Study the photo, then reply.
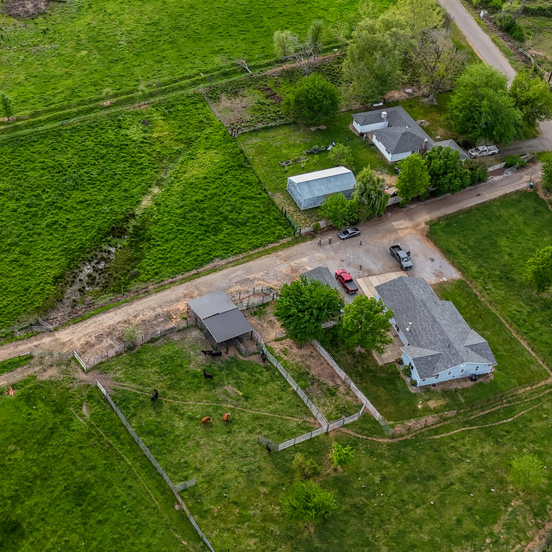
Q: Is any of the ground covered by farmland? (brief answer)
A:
Yes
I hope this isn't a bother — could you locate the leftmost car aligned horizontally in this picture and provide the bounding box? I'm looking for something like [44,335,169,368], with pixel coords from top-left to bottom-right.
[338,227,362,240]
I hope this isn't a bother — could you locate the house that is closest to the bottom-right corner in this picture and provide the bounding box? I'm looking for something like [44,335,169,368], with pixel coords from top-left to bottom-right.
[376,274,498,386]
